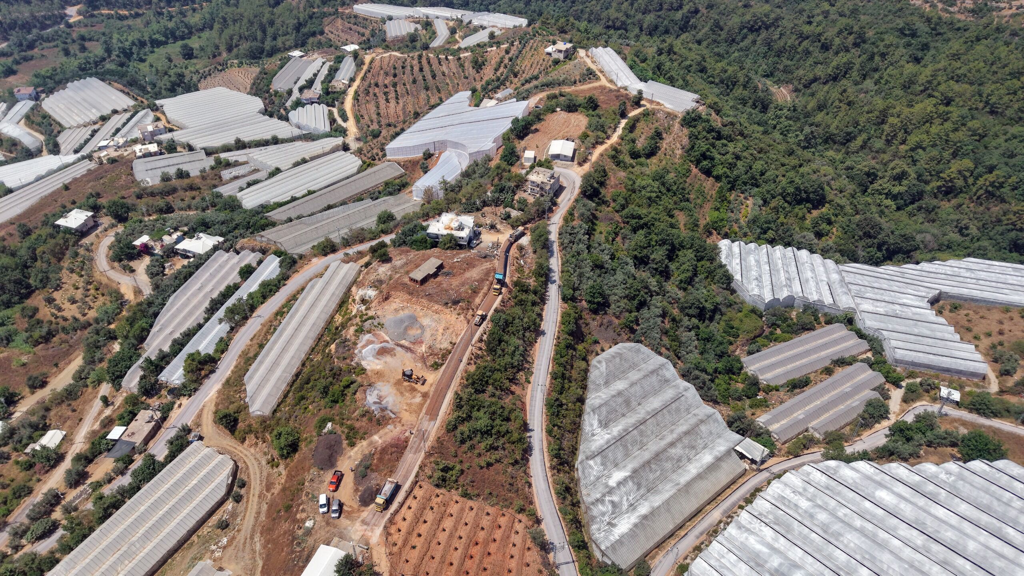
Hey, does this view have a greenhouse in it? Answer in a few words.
Yes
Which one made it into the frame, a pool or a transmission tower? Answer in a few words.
transmission tower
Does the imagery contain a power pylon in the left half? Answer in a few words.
No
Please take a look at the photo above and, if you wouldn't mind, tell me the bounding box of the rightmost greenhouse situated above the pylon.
[839,256,1024,378]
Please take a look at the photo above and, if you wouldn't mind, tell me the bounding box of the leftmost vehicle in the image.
[187,426,202,443]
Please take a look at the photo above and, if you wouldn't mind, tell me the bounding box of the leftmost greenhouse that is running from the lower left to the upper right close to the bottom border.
[43,440,236,576]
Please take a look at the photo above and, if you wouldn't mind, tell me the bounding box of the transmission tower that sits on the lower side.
[932,370,969,416]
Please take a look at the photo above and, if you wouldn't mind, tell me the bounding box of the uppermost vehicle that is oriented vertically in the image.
[493,271,505,294]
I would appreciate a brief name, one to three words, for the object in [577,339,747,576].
greenhouse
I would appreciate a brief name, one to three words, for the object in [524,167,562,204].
house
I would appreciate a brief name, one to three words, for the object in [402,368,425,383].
work vehicle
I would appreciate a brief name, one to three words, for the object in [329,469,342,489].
vehicle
